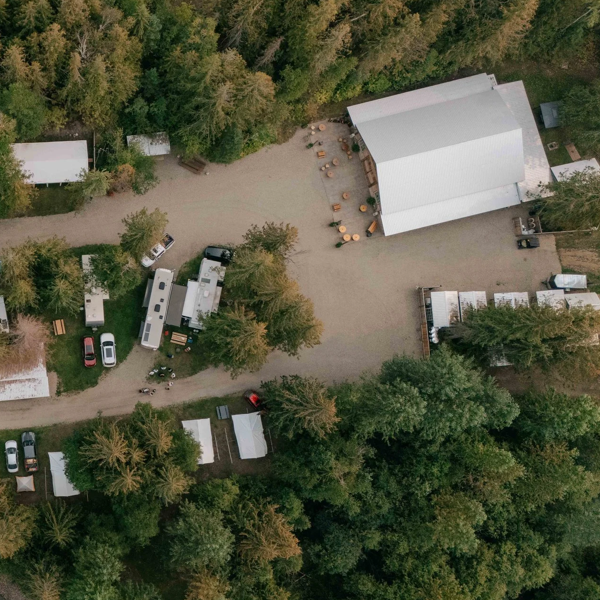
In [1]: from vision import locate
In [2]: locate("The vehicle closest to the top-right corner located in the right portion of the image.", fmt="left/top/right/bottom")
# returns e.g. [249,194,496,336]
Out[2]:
[514,237,541,250]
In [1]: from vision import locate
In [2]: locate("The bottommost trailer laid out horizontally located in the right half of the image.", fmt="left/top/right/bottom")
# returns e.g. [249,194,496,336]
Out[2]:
[539,273,586,290]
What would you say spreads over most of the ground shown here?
trees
